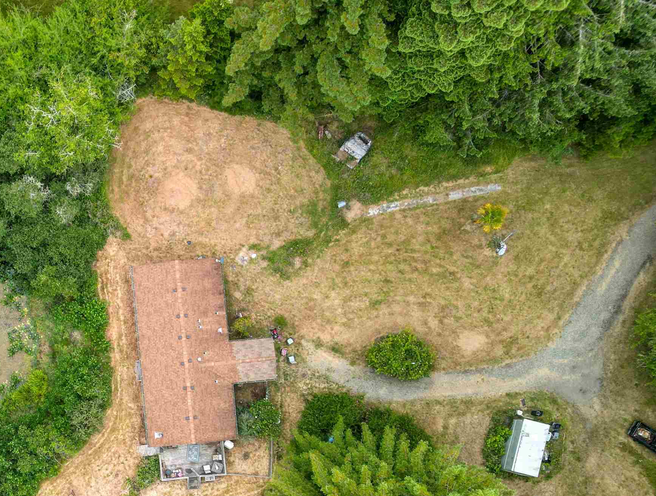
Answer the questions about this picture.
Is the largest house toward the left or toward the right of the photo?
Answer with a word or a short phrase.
left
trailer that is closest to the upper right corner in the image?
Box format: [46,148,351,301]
[331,130,372,172]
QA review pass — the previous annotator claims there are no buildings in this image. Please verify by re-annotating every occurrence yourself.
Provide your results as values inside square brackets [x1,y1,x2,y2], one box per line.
[130,257,276,450]
[495,418,550,477]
